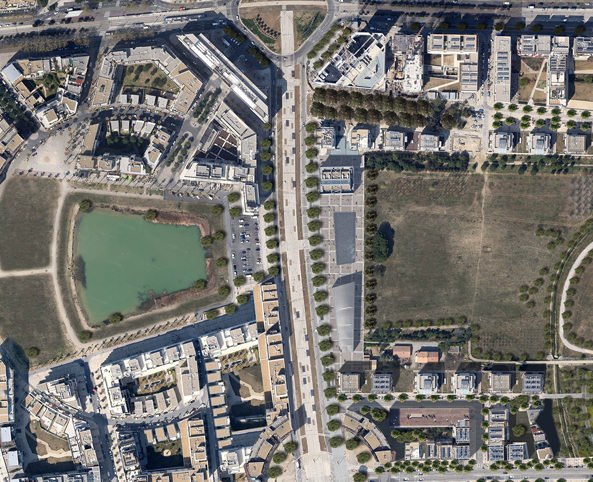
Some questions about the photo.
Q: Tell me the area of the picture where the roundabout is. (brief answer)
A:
top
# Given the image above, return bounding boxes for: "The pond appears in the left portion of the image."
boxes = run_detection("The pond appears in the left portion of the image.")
[78,210,206,325]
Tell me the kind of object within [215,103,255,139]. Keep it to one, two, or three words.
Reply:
building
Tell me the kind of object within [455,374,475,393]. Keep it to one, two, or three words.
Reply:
house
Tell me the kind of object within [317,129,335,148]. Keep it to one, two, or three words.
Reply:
house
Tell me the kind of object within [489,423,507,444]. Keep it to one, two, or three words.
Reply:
building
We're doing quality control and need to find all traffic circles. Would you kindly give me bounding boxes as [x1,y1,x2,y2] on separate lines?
[231,0,339,59]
